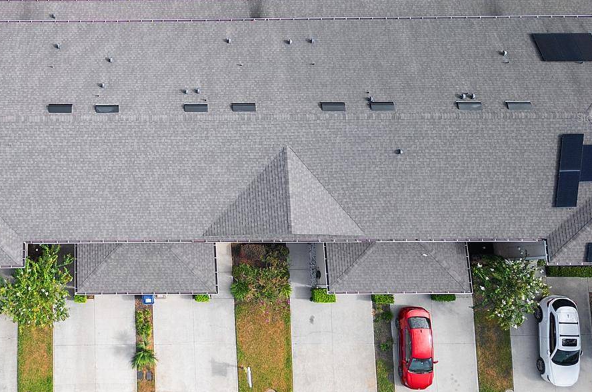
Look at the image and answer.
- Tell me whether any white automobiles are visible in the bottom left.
No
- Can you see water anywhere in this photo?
No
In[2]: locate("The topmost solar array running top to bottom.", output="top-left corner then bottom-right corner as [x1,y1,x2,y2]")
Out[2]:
[554,136,592,209]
